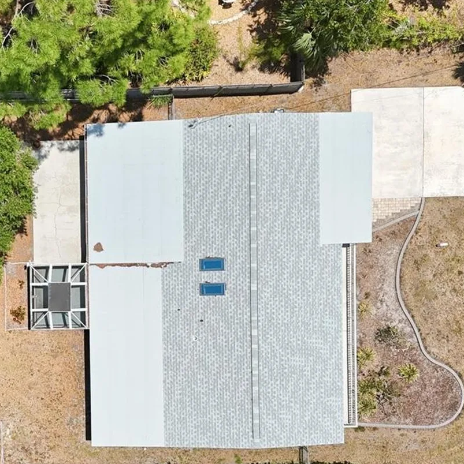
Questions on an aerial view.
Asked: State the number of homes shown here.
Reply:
one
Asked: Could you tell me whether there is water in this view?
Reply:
No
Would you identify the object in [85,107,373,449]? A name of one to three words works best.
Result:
house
